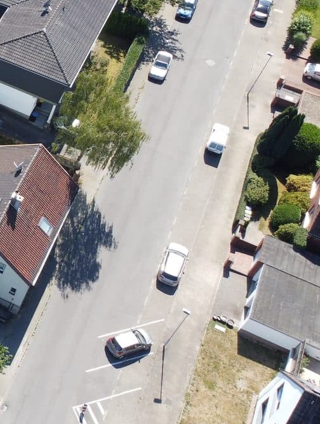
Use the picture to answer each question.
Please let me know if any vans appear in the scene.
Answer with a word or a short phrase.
Yes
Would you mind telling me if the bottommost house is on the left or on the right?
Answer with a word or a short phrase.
right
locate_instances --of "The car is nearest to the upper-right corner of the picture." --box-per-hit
[251,0,277,21]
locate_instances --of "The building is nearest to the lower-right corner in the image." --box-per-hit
[251,365,320,424]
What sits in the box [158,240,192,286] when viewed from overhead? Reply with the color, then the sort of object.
white car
